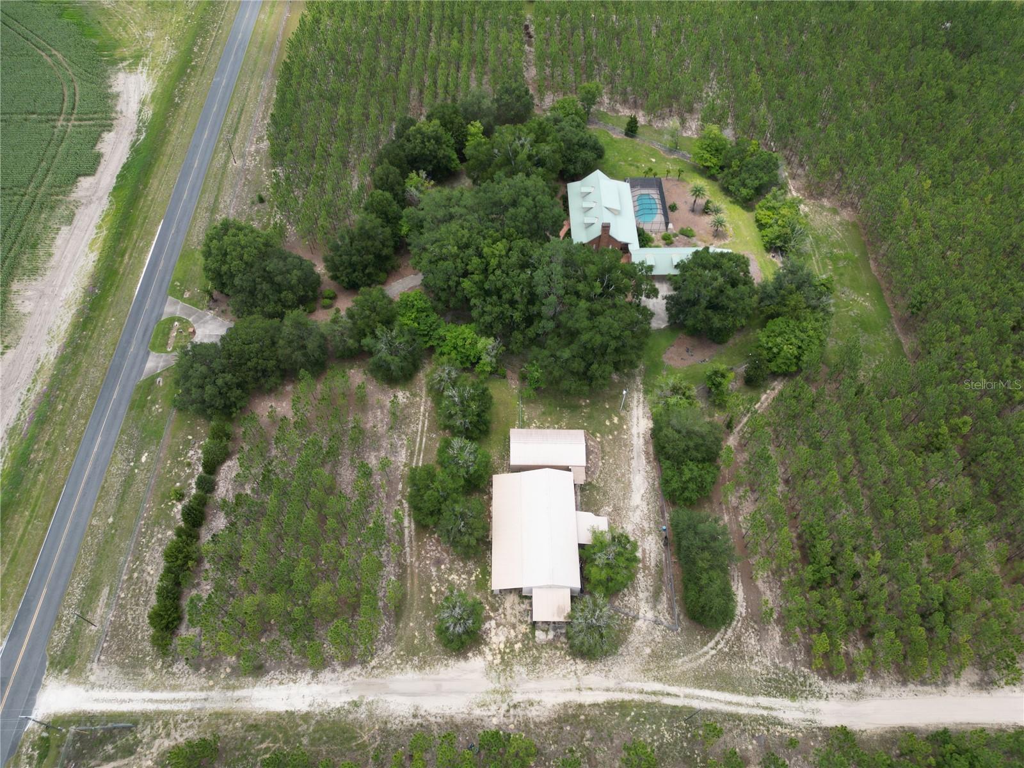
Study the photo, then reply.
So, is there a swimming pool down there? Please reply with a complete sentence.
Yes, the picture does show a swimming pool.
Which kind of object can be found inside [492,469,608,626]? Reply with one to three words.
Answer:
barn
